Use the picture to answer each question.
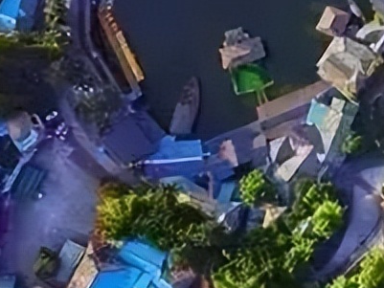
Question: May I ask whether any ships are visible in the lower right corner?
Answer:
No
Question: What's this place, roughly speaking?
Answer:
residential area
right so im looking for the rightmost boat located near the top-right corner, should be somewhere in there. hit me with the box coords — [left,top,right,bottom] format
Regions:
[348,0,365,16]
